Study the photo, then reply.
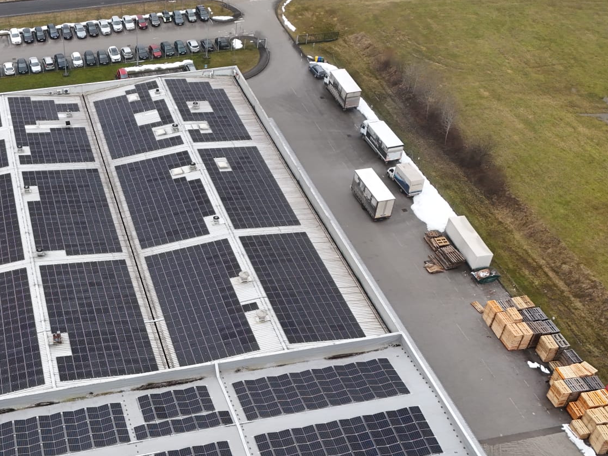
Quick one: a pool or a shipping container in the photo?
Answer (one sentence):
Looking from above, you can make out a shipping container.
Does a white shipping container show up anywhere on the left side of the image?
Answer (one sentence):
No, there's no white shipping container to be seen on the left side of the image.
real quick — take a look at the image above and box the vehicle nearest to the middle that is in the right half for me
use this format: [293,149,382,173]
[352,168,396,218]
